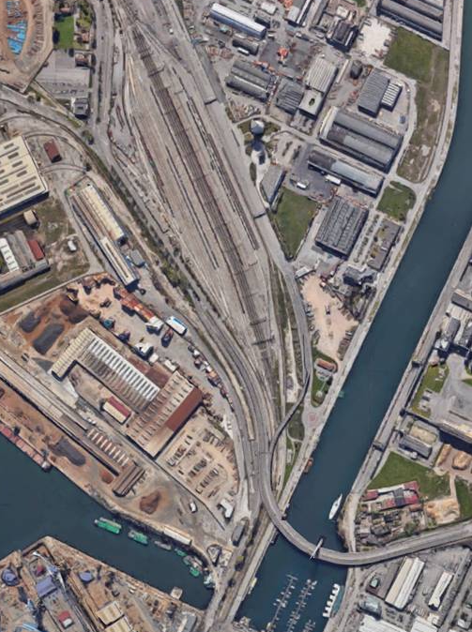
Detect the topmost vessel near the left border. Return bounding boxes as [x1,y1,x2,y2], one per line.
[0,423,49,471]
